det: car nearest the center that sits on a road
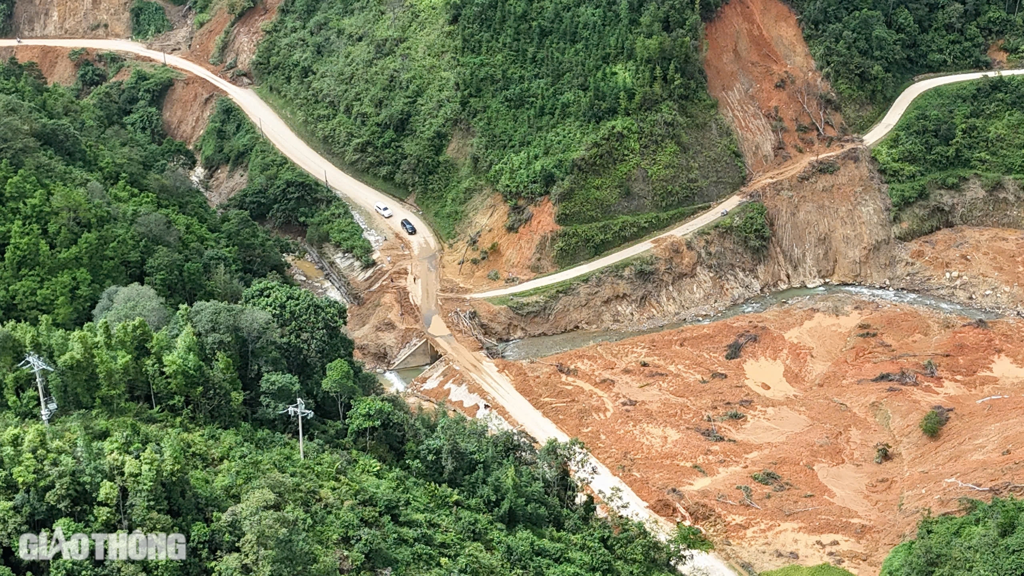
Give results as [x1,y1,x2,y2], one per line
[402,219,415,232]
